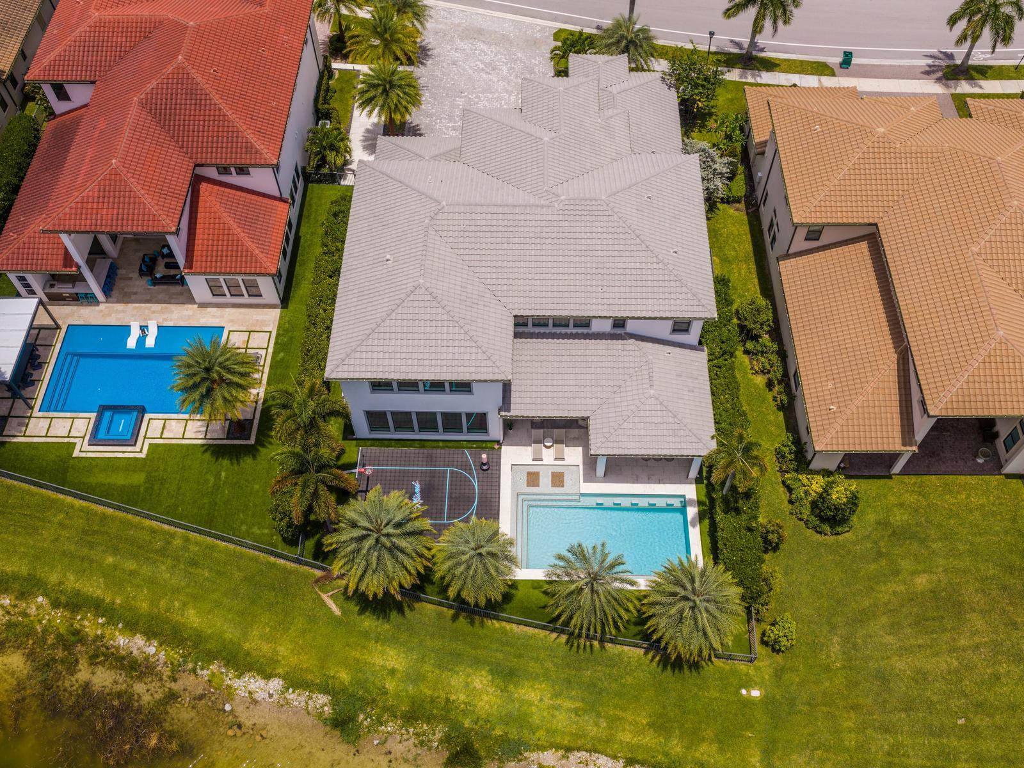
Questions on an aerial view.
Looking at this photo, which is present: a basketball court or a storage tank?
basketball court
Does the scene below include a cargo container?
No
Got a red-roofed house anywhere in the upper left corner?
Yes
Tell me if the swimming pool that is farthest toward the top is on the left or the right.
left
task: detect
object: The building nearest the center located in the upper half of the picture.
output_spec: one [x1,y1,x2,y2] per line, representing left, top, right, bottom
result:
[323,52,720,478]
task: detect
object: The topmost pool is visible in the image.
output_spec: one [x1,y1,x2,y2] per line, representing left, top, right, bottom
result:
[38,324,227,414]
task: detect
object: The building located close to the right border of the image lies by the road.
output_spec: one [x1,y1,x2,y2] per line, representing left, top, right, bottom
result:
[744,85,1024,474]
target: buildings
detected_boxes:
[0,0,335,305]
[744,85,1024,474]
[323,52,720,478]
